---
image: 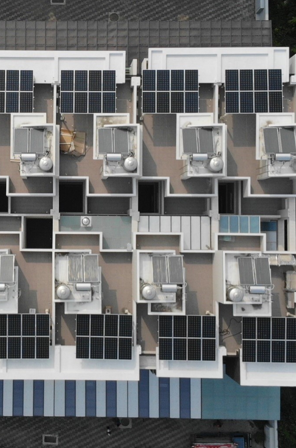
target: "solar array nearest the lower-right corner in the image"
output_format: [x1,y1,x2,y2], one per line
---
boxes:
[235,310,296,362]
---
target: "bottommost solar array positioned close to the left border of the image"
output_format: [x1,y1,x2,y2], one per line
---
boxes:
[0,307,50,358]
